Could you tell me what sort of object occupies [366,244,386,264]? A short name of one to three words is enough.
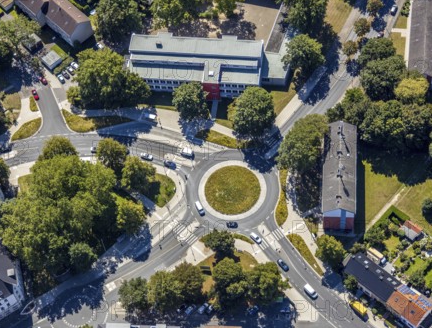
vehicle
